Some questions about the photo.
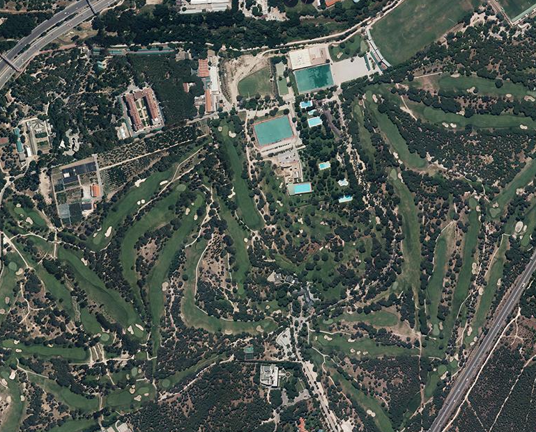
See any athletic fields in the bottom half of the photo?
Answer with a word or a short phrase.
No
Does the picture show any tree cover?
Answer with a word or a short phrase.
Yes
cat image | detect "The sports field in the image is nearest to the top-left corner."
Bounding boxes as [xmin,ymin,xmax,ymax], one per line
[239,66,273,98]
